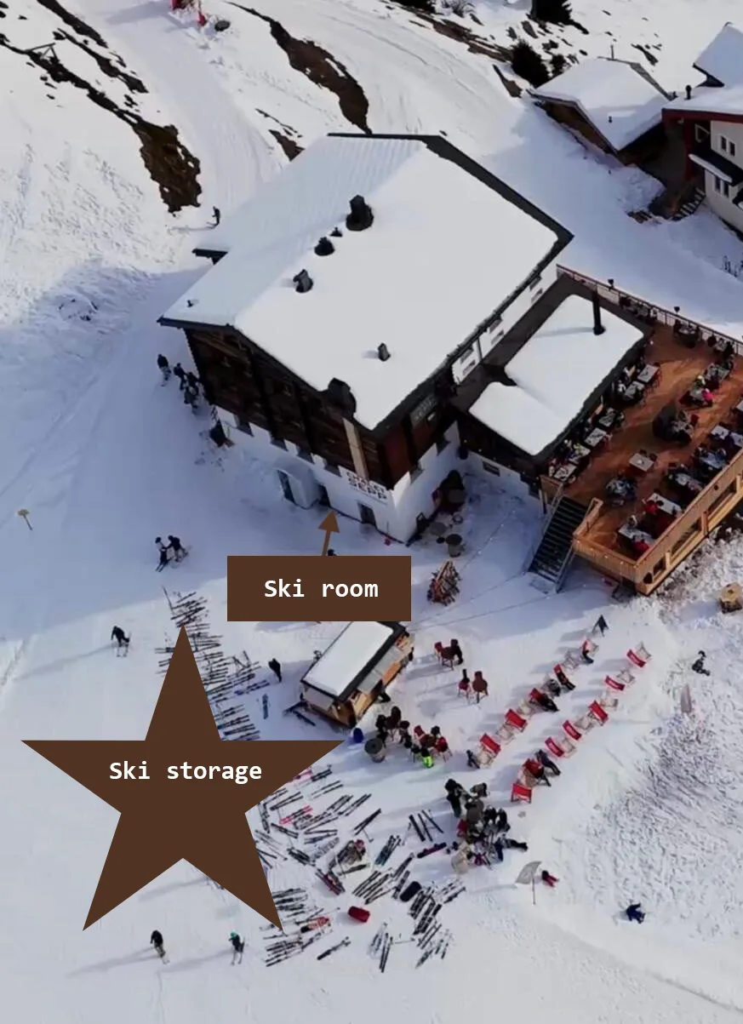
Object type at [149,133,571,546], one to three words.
house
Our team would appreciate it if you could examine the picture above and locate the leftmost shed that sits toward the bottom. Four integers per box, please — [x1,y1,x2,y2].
[303,610,419,734]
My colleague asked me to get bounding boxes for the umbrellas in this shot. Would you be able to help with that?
[515,863,545,903]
